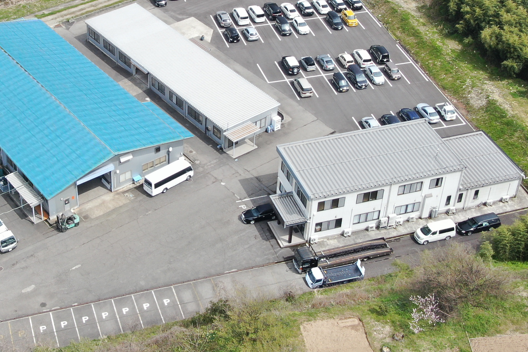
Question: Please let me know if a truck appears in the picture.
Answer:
Yes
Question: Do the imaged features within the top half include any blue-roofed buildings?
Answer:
Yes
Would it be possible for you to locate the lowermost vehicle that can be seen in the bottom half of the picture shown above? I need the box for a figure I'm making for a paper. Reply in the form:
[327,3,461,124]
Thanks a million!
[305,263,370,291]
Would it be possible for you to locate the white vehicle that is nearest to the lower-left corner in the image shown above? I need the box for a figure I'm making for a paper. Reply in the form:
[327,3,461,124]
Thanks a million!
[0,224,18,251]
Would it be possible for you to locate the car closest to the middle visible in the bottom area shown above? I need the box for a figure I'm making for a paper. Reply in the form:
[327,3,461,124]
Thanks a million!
[237,205,277,226]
